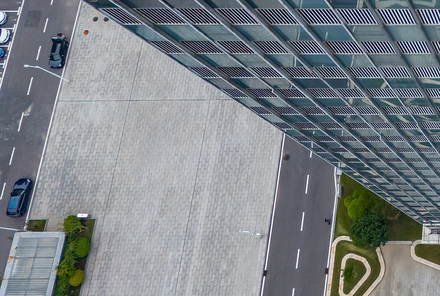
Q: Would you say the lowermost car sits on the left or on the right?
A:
left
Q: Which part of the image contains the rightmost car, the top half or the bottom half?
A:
top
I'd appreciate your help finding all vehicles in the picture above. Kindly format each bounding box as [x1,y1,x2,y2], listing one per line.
[0,47,8,61]
[0,12,10,25]
[47,29,71,71]
[6,179,34,219]
[0,28,13,43]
